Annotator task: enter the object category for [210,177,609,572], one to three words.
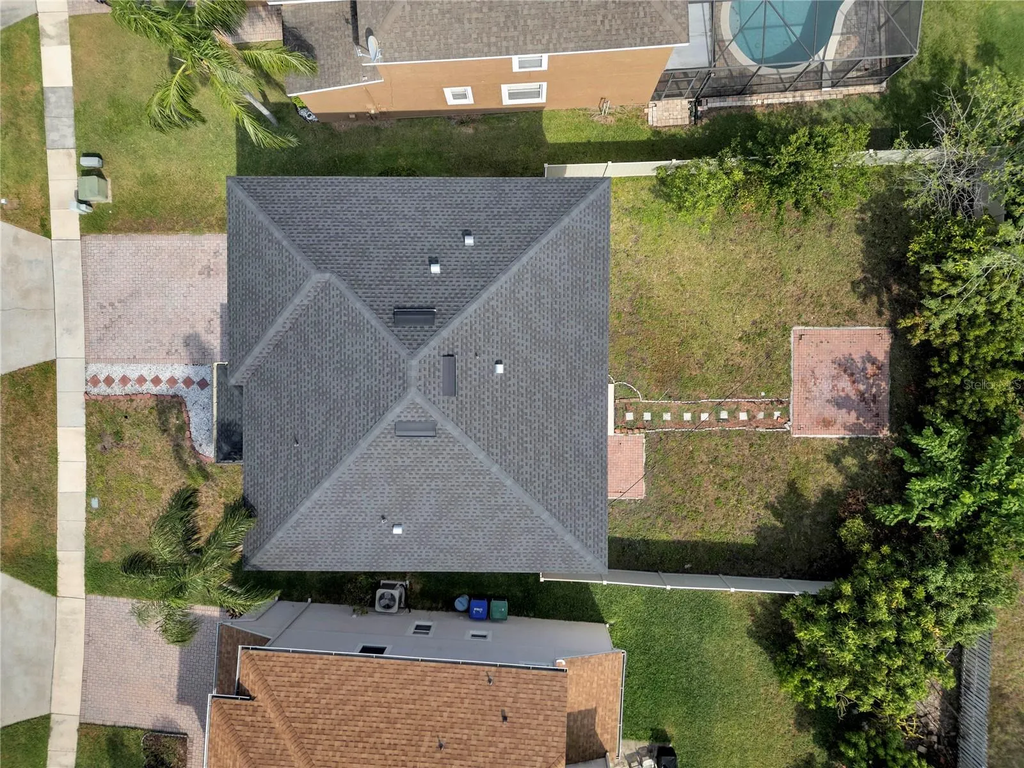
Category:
house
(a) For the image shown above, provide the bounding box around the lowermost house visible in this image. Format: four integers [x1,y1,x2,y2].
[198,593,621,768]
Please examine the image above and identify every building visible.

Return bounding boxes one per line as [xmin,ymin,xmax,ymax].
[210,177,609,572]
[266,0,713,122]
[198,593,621,768]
